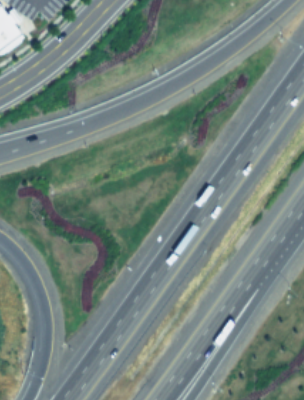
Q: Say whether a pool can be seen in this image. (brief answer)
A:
No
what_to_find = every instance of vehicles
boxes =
[212,206,222,219]
[290,96,300,108]
[26,135,38,142]
[196,186,216,210]
[216,318,236,345]
[243,166,252,177]
[170,226,200,264]
[110,346,120,356]
[57,30,67,40]
[204,347,214,358]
